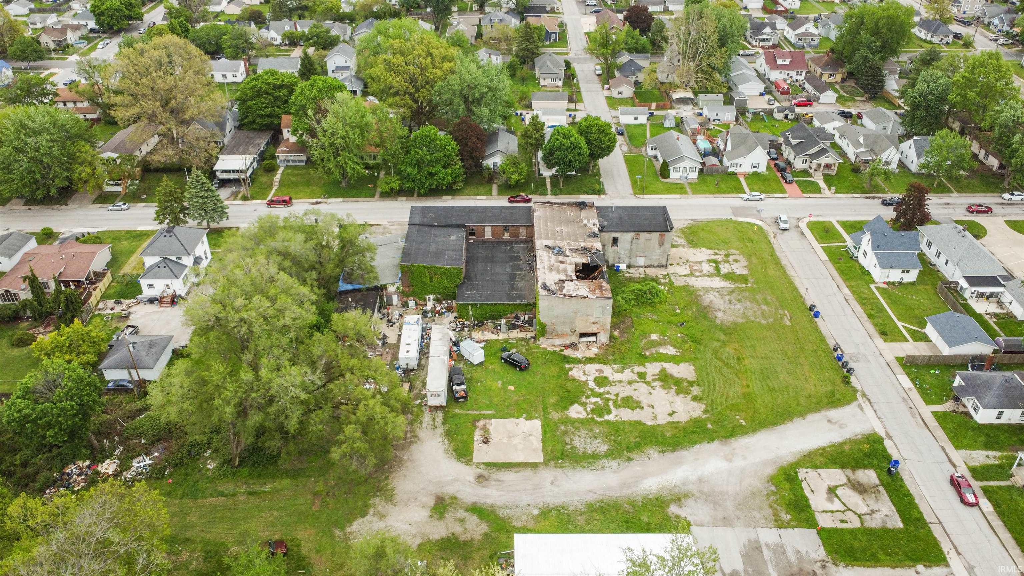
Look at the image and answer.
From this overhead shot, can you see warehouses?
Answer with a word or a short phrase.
Yes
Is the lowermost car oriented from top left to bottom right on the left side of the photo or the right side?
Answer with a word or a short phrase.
right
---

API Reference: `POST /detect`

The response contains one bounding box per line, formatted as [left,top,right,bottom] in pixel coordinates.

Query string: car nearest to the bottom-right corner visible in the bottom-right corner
[948,473,981,511]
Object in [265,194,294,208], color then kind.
red vehicle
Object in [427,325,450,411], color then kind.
white trailer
